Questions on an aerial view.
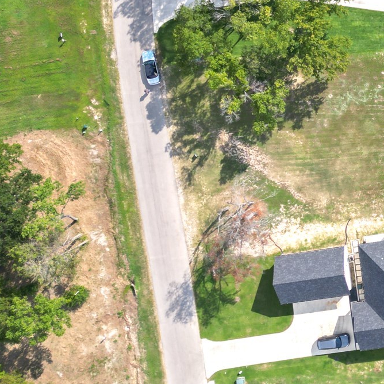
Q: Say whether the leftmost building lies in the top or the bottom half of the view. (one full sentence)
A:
The bottom half of the photo is where the leftmost building is.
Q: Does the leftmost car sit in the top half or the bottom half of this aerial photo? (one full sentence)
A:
The leftmost car sits in the top half of the picture.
